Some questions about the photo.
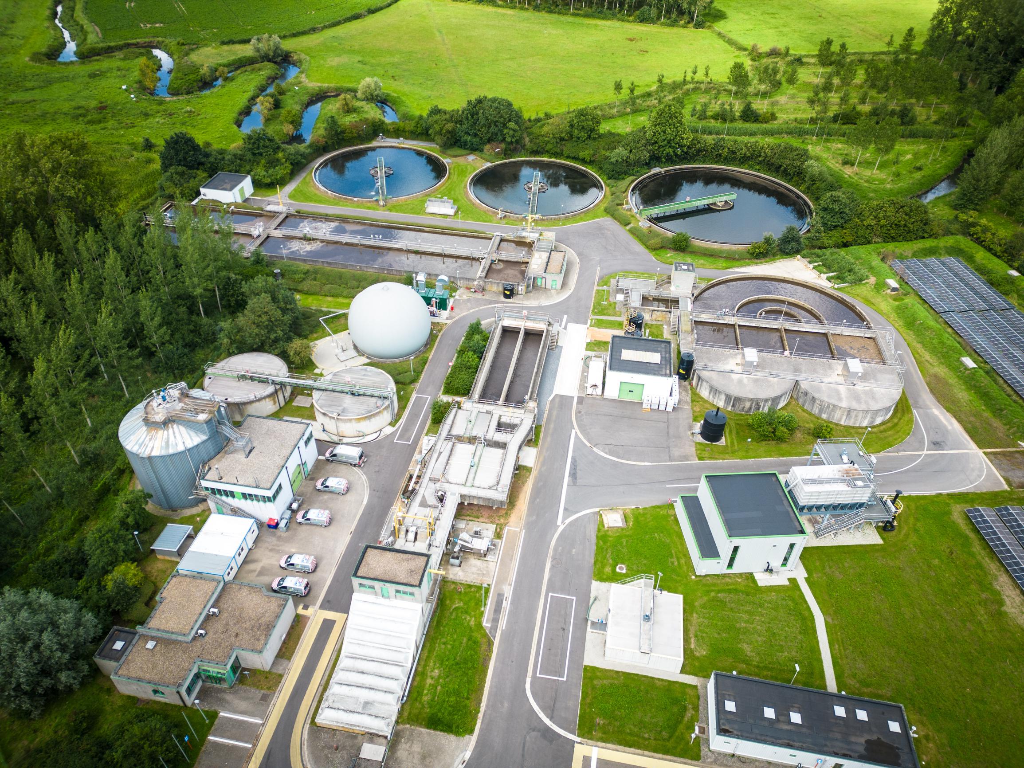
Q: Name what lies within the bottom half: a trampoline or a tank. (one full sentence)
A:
The one visible within the bottom half is a tank.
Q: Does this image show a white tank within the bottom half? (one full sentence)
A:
Yes, the scene does show a white tank within the bottom half.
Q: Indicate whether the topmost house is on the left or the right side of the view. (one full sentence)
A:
The topmost house sits on the left side.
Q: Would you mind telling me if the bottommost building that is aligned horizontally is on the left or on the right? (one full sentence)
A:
The bottommost building that is aligned horizontally sits on the right side.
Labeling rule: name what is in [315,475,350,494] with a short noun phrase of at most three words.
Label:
vehicle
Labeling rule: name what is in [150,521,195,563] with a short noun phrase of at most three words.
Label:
shed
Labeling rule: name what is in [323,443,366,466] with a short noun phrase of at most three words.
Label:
vehicle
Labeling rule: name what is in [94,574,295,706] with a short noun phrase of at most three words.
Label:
building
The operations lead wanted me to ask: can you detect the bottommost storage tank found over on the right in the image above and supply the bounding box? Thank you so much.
[583,572,683,672]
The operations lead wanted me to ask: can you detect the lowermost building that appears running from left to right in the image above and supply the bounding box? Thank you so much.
[709,671,917,768]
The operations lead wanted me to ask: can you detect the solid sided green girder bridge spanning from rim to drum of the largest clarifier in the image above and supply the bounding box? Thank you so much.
[639,190,738,216]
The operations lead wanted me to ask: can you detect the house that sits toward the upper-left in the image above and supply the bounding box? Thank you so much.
[200,172,253,202]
